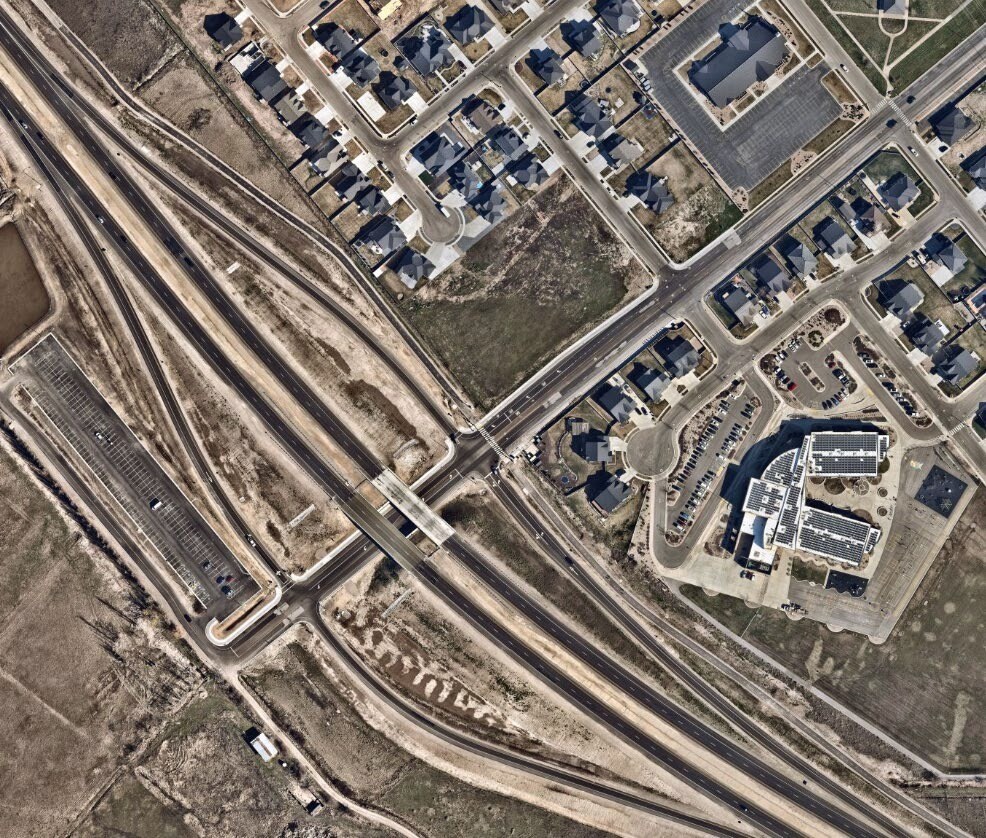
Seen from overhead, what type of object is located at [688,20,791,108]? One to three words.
building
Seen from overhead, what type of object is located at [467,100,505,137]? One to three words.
house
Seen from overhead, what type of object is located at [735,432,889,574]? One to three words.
building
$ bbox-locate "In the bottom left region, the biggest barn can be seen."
[250,733,277,762]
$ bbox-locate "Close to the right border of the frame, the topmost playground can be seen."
[915,464,968,518]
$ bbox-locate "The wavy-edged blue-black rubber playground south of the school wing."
[825,569,869,597]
